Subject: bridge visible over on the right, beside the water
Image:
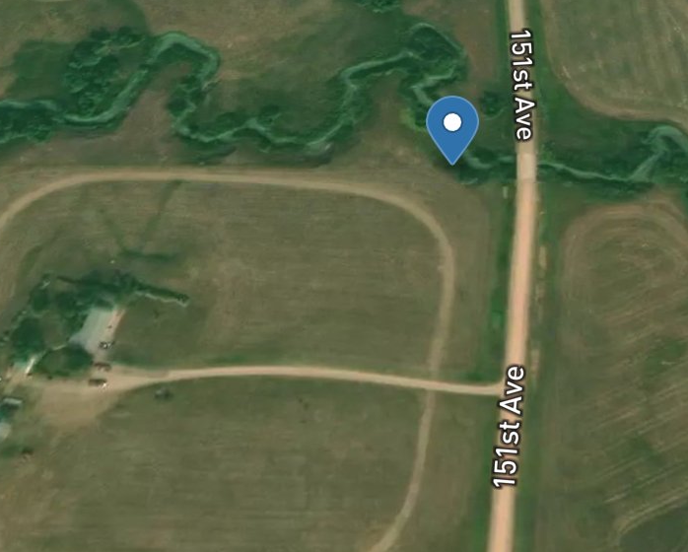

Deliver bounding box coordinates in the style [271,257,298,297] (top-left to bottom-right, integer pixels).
[516,150,538,180]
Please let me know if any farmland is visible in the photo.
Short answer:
Yes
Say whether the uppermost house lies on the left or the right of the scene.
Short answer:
left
